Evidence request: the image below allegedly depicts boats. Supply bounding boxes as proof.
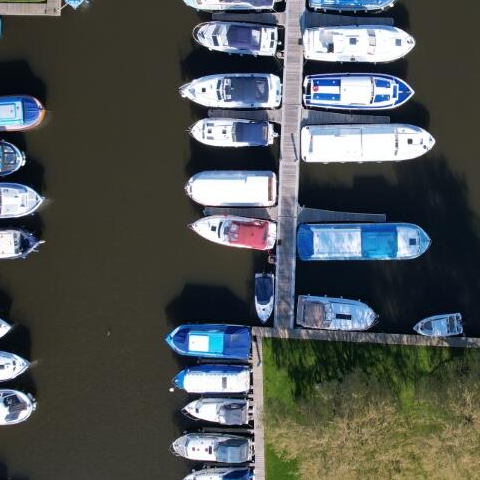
[189,21,286,58]
[182,395,253,425]
[189,0,282,12]
[297,74,414,110]
[0,97,46,132]
[0,184,46,218]
[291,221,434,261]
[413,313,466,337]
[255,269,274,323]
[294,125,435,164]
[186,213,284,250]
[187,118,283,149]
[0,388,38,428]
[296,25,415,65]
[169,364,256,396]
[0,349,32,380]
[167,431,255,464]
[166,322,259,360]
[303,0,395,15]
[184,464,255,480]
[0,231,41,261]
[178,73,290,109]
[182,171,285,207]
[0,141,26,178]
[291,293,380,330]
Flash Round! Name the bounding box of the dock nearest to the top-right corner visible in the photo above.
[306,10,394,28]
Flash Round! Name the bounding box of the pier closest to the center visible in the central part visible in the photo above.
[204,208,278,221]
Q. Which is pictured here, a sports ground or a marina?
marina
